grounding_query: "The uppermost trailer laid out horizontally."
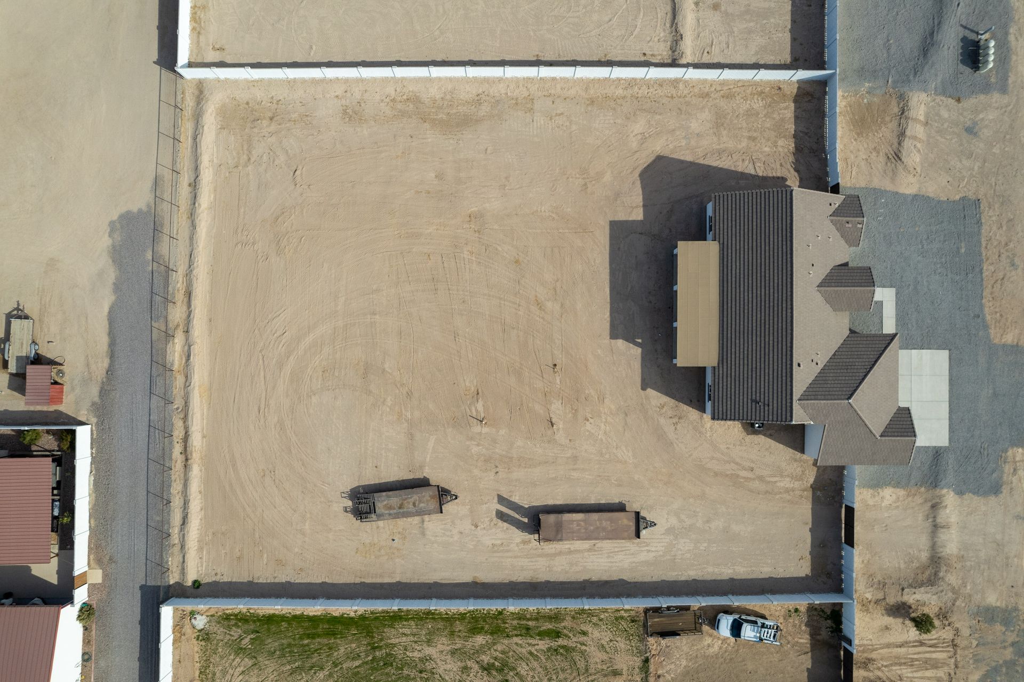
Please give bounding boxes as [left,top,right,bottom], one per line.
[355,485,458,521]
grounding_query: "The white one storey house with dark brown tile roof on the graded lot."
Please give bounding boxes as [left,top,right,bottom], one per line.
[675,186,917,465]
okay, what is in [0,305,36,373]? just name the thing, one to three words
trailer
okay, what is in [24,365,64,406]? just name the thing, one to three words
shed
